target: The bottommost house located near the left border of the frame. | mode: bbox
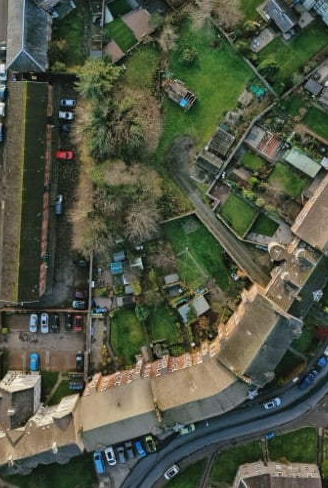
[0,377,83,476]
